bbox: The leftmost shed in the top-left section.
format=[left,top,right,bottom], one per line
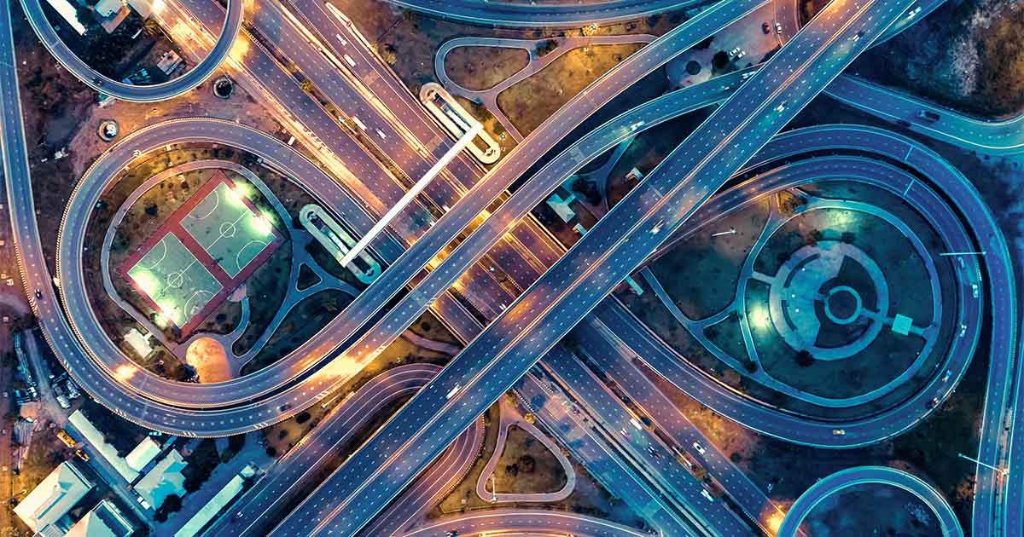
[51,0,90,38]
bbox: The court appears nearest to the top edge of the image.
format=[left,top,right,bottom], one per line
[179,182,276,278]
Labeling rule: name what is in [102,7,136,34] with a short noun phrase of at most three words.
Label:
house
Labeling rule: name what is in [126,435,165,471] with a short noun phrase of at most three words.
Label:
building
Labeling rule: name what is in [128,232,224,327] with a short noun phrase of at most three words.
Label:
sports court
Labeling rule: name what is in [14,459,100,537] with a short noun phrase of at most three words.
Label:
building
